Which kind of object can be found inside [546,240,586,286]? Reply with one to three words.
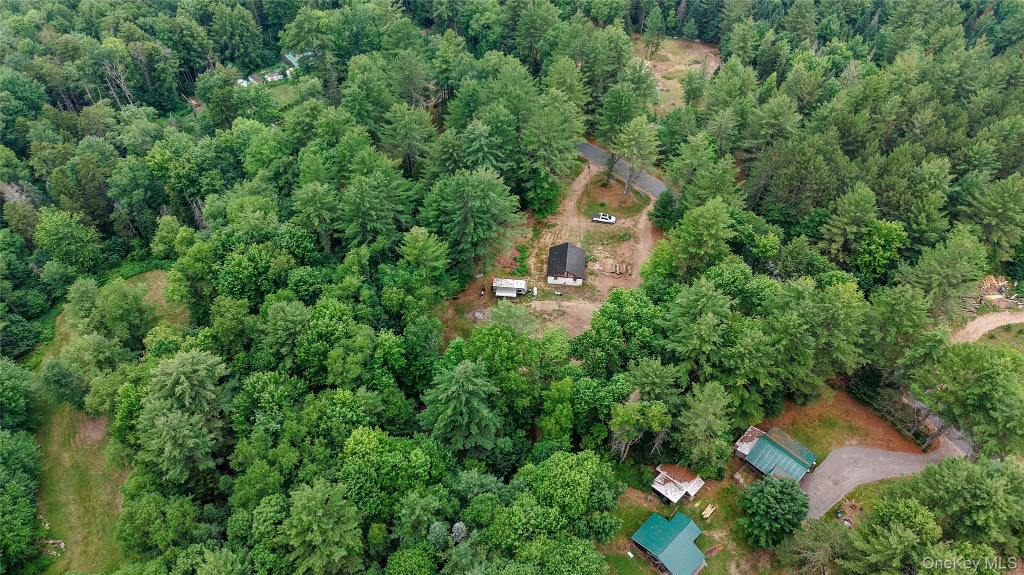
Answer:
building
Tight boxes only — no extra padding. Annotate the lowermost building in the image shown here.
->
[630,511,707,575]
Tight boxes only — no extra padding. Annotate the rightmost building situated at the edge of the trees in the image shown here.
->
[734,426,820,491]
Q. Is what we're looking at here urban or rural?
rural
